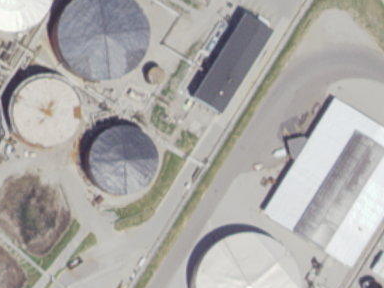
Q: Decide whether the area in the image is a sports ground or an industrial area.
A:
industrial area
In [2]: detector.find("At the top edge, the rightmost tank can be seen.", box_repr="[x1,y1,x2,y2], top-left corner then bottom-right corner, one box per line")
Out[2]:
[52,0,152,84]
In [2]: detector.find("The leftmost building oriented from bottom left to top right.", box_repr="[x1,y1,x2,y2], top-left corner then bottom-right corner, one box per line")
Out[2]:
[190,10,272,114]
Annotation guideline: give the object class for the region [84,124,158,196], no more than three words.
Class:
storage tank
